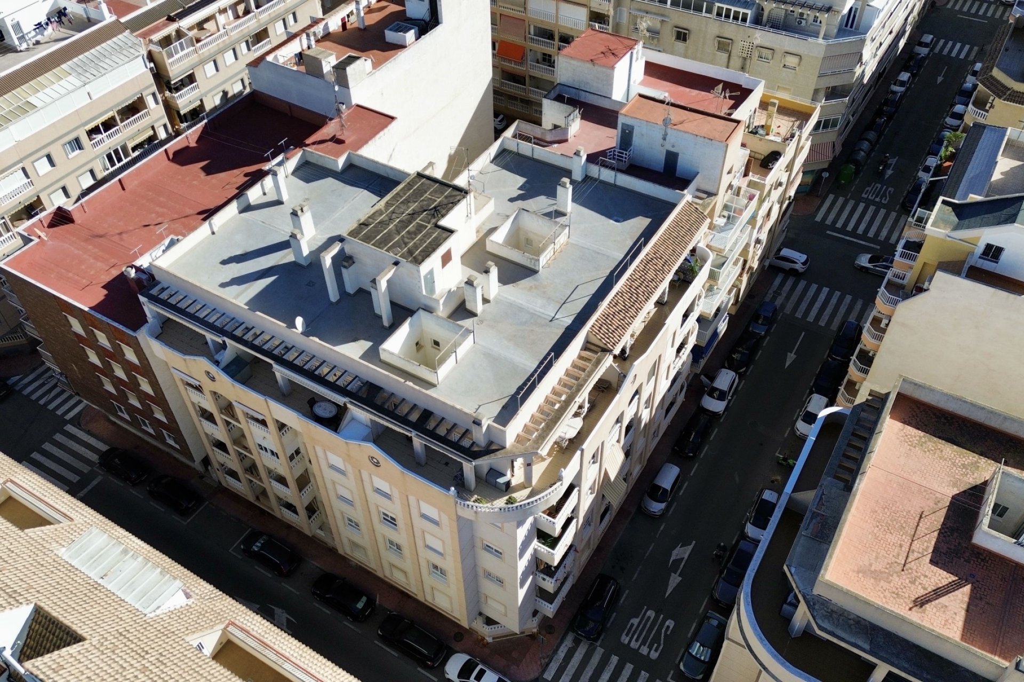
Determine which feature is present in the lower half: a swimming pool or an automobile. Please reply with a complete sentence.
The one visible in the lower half is an automobile.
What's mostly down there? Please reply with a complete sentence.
Most of the picture is covered by buildings.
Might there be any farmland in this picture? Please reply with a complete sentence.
No, the picture contains no farmland.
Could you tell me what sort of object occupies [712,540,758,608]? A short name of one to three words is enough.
car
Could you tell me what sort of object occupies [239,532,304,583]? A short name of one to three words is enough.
car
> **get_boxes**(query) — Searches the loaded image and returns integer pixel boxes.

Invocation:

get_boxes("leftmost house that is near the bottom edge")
[0,450,358,682]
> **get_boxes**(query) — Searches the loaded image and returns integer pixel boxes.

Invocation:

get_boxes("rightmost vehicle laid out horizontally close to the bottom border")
[446,652,519,682]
